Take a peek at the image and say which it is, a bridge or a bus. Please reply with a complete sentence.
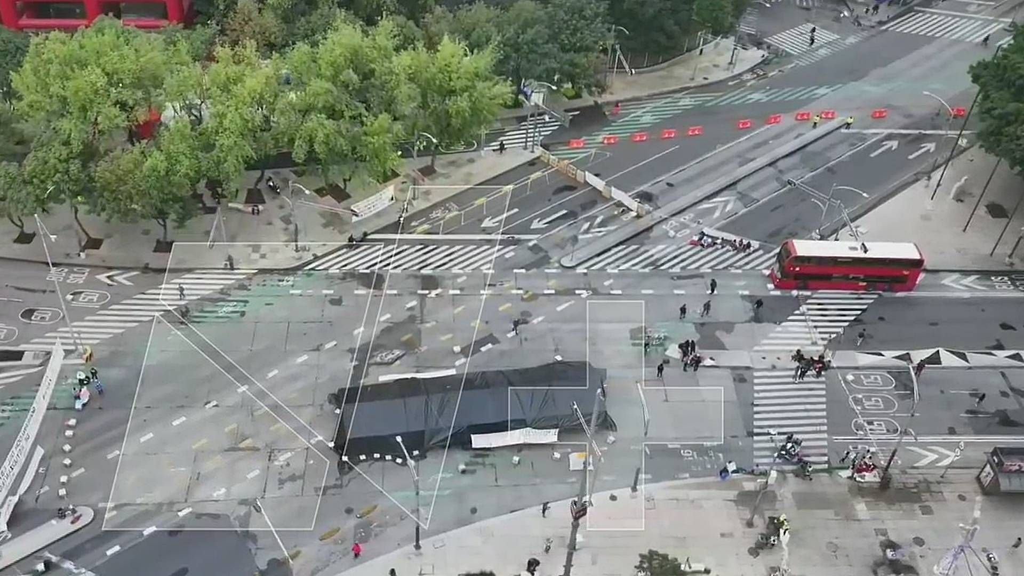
It is a bus that can be seen here.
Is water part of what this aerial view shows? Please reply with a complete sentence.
No, water can't be seen anywhere here.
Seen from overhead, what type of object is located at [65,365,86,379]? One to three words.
umbrella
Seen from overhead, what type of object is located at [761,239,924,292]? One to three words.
bus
